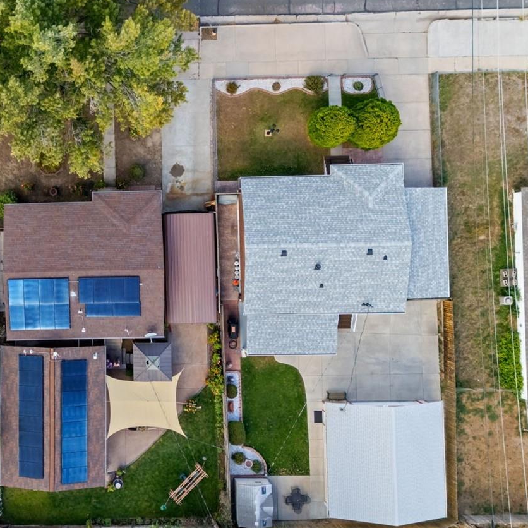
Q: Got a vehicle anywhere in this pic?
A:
No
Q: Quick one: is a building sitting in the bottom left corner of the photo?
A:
Yes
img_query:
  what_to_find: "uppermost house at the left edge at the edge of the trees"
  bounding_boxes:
[2,189,166,350]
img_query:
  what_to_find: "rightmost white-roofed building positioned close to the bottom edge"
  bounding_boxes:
[317,397,447,527]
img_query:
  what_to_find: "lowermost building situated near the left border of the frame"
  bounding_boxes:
[0,340,107,492]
